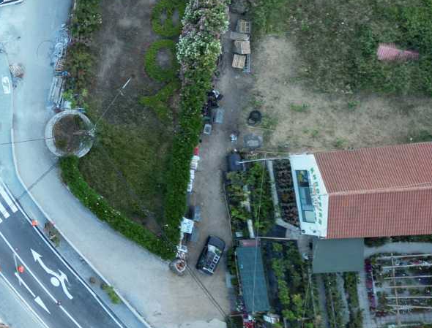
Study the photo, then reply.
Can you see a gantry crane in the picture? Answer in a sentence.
No, there is no gantry crane in the image.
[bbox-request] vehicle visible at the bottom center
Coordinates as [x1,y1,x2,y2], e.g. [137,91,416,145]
[197,231,225,279]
